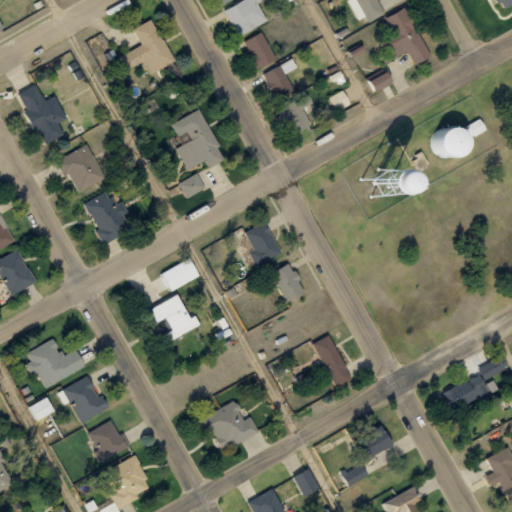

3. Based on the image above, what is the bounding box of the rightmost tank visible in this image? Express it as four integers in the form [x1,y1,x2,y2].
[432,128,473,158]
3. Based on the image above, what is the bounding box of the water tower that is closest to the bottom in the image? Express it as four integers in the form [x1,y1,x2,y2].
[360,166,428,200]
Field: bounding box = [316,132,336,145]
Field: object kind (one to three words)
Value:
vehicle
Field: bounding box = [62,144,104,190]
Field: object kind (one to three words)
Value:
house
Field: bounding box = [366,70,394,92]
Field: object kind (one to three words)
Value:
building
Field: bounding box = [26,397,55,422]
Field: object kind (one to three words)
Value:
shed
